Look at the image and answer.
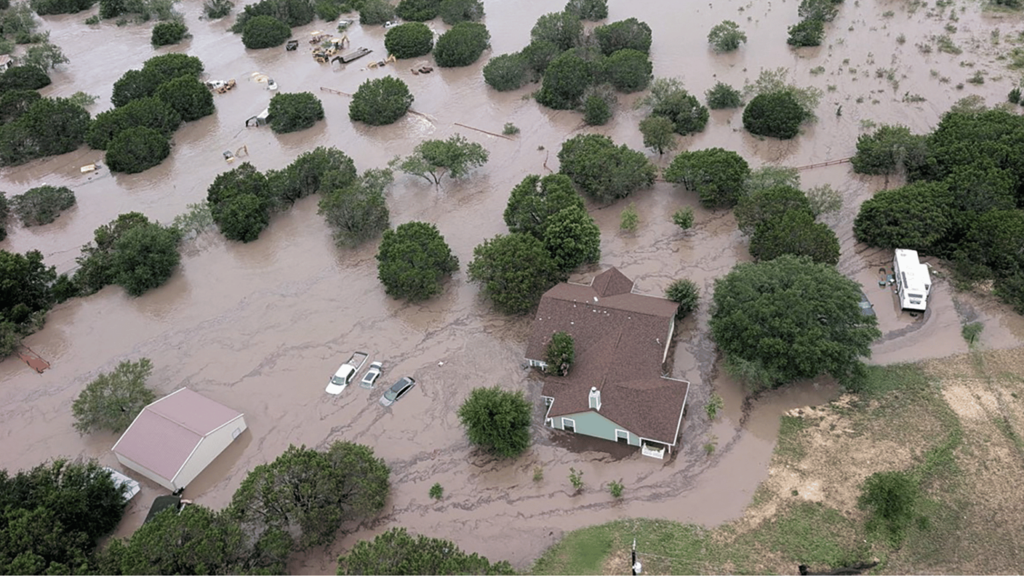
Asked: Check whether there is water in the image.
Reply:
Yes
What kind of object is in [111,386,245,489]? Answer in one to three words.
barn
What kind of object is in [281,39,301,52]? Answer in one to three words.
vehicle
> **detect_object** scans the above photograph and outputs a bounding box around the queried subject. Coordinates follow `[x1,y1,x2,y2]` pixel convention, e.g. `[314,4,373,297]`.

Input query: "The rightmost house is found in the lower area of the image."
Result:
[525,266,690,450]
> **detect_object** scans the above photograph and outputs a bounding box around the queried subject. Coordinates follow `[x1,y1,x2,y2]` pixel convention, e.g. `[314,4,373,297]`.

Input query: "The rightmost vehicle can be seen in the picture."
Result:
[893,251,934,314]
